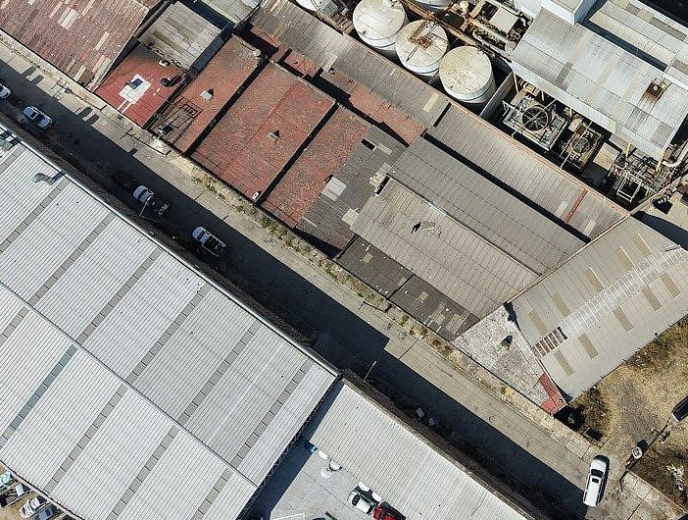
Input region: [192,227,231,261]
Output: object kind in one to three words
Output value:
truck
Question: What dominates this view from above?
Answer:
buildings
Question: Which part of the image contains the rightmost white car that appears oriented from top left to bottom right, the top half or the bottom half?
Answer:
bottom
